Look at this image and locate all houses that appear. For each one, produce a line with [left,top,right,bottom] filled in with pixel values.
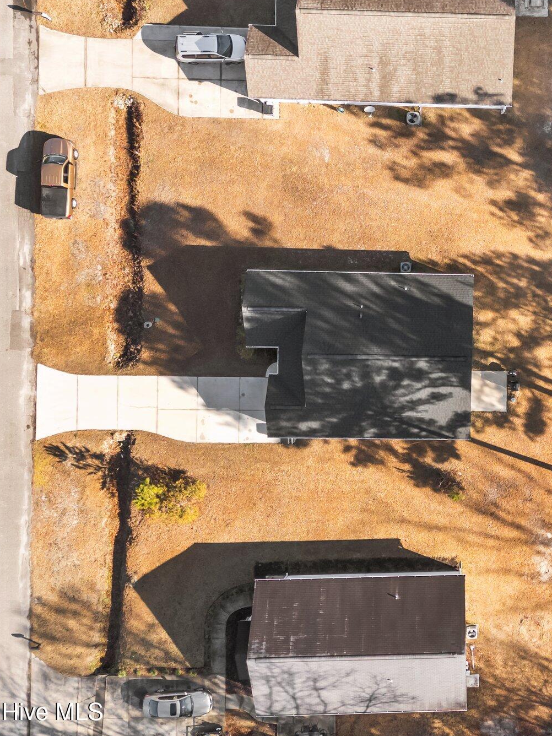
[242,269,474,442]
[242,0,517,116]
[236,560,467,718]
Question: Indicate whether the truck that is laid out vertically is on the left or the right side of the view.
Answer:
left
